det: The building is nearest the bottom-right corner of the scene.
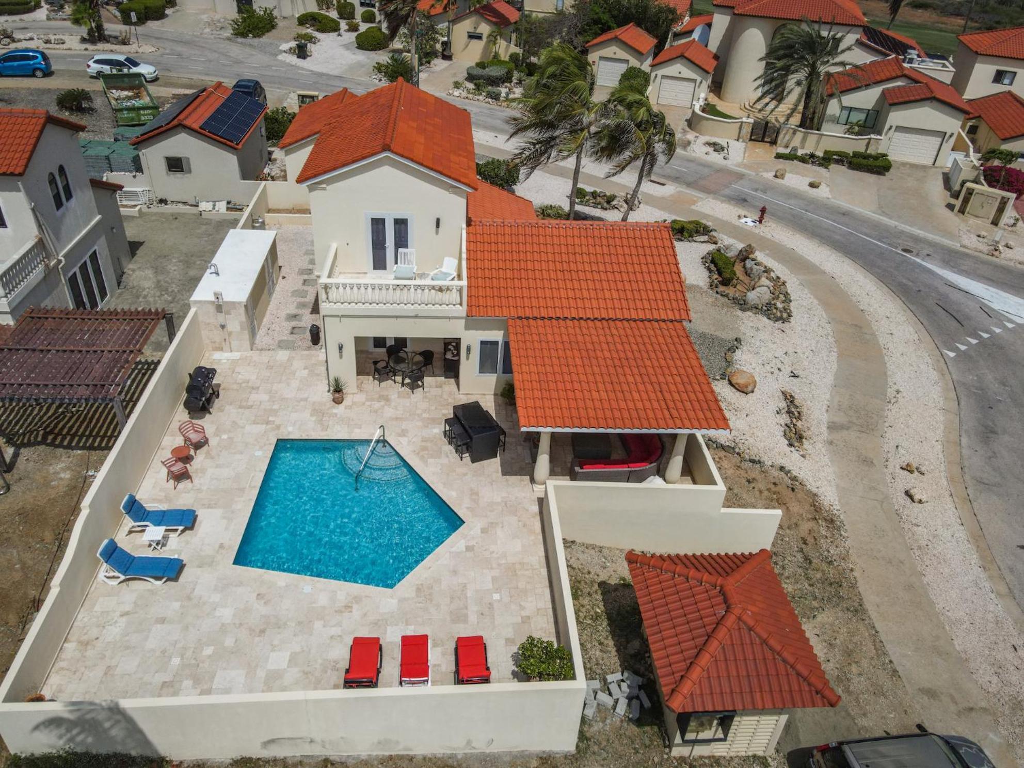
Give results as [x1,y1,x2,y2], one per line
[621,547,848,758]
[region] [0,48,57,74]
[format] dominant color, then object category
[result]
blue car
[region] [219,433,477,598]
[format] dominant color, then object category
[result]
blue swimming pool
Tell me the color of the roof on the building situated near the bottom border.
red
